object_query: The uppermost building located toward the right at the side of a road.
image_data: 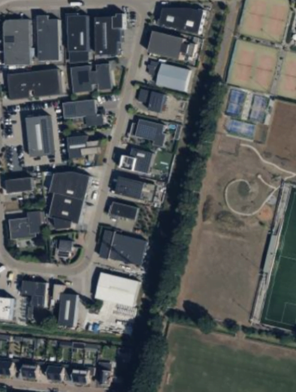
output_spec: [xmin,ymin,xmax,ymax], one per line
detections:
[159,8,206,33]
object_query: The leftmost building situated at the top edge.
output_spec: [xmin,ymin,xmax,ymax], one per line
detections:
[3,19,32,65]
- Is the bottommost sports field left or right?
right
